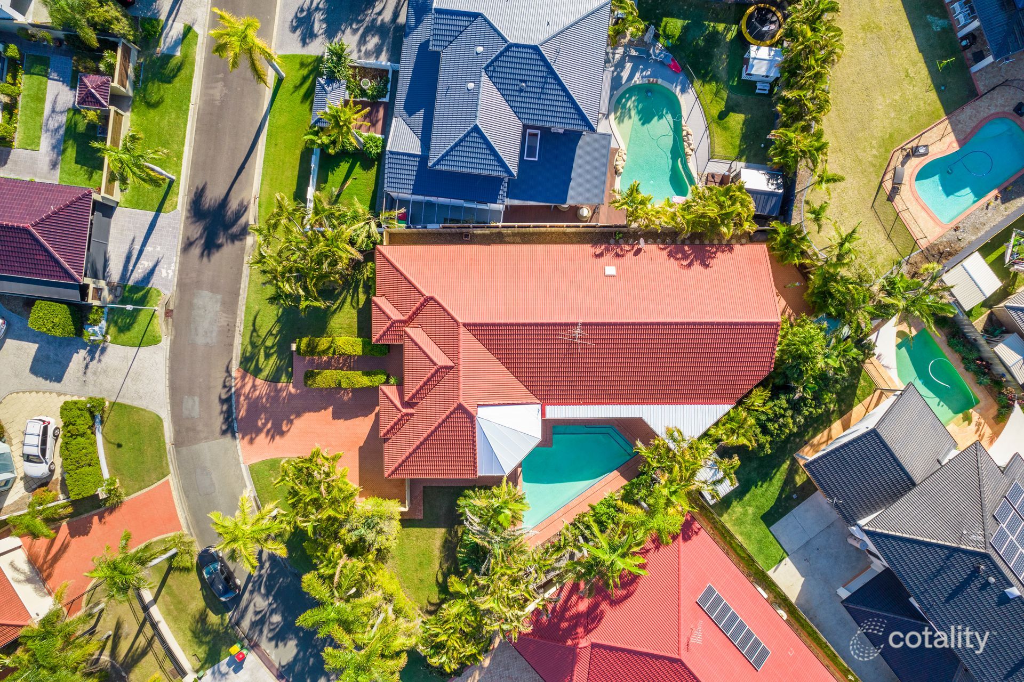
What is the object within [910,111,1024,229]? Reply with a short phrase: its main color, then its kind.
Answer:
blue swimming pool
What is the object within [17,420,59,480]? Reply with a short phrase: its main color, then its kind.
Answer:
white car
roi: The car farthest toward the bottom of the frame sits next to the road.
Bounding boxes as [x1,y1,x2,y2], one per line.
[192,548,241,609]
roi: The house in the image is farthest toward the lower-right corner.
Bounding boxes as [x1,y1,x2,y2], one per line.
[798,381,1024,682]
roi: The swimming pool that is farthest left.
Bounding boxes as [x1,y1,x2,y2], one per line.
[519,423,640,526]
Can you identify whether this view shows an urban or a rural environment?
urban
